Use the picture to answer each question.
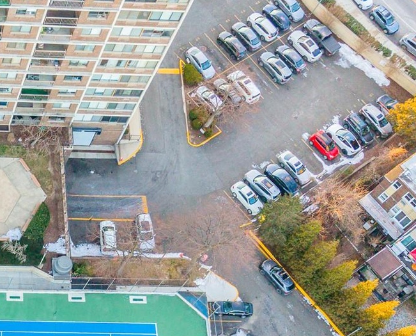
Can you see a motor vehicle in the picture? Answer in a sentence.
Yes, you can see a motor vehicle in this photo.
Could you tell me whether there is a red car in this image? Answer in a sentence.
Yes, the picture does show a red car.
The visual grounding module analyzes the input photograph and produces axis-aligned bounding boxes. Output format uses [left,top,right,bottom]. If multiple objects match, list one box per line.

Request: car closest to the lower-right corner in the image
[258,260,295,296]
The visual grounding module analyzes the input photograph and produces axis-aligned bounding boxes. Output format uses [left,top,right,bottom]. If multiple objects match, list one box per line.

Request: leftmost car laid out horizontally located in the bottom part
[210,299,252,318]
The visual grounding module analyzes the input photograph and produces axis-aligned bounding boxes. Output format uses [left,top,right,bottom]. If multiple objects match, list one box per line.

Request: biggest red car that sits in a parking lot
[307,132,340,161]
